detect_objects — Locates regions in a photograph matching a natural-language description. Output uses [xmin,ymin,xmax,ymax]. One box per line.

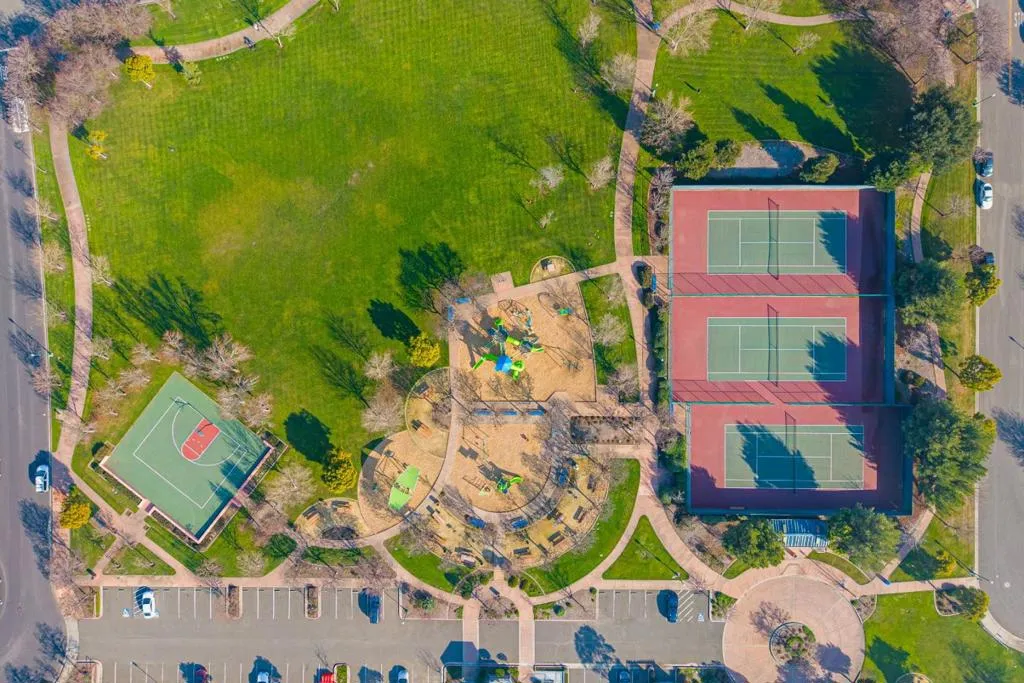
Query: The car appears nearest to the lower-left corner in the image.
[138,592,154,620]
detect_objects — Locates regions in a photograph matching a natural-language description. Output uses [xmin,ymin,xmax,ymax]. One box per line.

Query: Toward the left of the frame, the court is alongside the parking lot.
[101,372,269,541]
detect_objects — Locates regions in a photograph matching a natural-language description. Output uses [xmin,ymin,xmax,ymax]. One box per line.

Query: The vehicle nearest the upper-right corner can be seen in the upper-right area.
[979,148,996,176]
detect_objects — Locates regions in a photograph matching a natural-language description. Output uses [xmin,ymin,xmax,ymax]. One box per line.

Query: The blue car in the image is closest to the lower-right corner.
[666,593,680,624]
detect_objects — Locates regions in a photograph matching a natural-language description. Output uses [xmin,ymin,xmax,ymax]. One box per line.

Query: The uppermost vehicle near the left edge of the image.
[31,464,48,494]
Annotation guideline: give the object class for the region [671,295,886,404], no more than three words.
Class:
tennis court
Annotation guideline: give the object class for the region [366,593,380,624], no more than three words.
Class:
car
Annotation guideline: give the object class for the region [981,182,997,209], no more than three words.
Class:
car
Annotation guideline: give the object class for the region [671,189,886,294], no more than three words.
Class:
tennis court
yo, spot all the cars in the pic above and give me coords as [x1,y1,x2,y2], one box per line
[981,182,997,209]
[255,673,269,683]
[192,670,207,683]
[396,671,409,683]
[979,148,996,176]
[31,464,48,494]
[320,674,333,683]
[619,673,631,683]
[138,592,154,620]
[366,593,380,624]
[666,593,680,624]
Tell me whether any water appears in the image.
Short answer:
No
